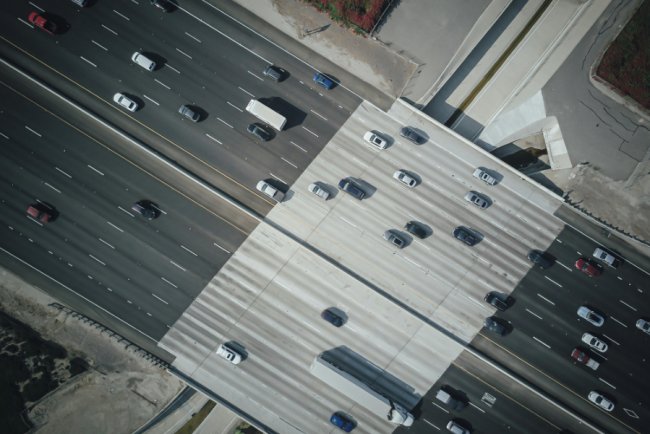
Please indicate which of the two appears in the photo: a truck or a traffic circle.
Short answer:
truck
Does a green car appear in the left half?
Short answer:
No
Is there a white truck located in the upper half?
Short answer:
Yes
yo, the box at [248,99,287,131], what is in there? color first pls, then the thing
white truck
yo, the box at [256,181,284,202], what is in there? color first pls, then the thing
white truck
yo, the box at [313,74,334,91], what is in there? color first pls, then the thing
blue car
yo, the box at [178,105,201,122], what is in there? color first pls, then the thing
gray car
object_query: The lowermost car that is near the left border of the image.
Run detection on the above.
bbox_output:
[25,206,51,224]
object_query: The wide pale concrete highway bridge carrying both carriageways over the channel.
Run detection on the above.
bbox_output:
[159,98,569,434]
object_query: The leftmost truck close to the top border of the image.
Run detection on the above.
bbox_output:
[27,12,57,36]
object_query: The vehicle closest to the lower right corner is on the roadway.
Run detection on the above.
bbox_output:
[589,391,614,410]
